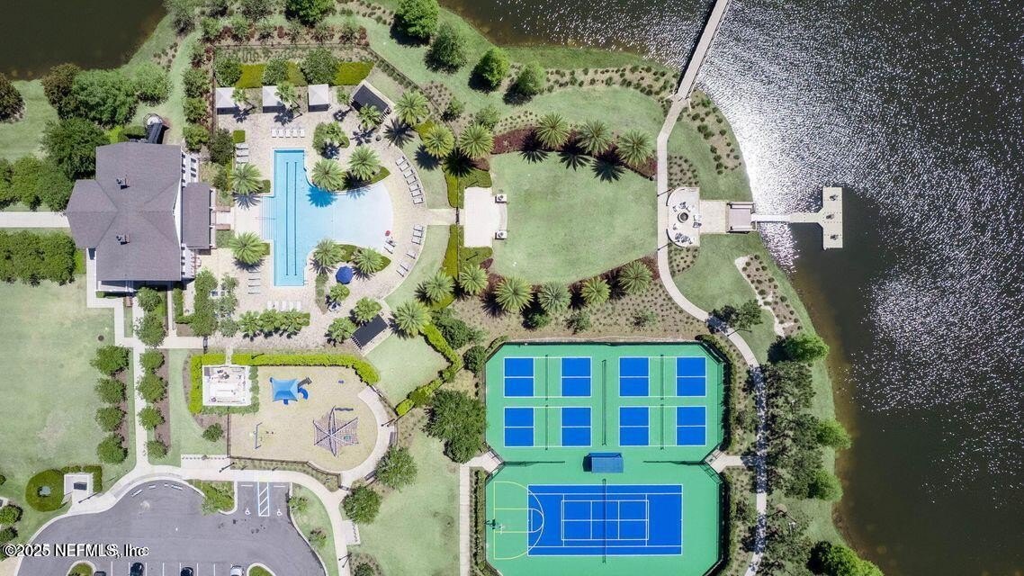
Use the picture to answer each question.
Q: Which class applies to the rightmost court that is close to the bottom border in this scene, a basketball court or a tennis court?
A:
tennis court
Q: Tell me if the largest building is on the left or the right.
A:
left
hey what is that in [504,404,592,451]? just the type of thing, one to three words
sports court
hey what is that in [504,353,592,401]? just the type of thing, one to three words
sports court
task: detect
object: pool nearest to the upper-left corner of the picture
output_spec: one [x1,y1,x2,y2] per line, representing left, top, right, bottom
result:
[256,147,395,288]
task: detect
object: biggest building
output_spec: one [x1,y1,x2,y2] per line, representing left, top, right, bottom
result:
[66,142,223,293]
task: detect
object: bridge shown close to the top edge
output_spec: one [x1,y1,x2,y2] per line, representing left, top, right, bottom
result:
[674,0,735,97]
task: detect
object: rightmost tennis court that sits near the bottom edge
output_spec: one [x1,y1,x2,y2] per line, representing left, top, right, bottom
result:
[528,478,682,565]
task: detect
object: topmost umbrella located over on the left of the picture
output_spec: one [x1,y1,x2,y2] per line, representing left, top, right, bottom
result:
[336,266,353,283]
